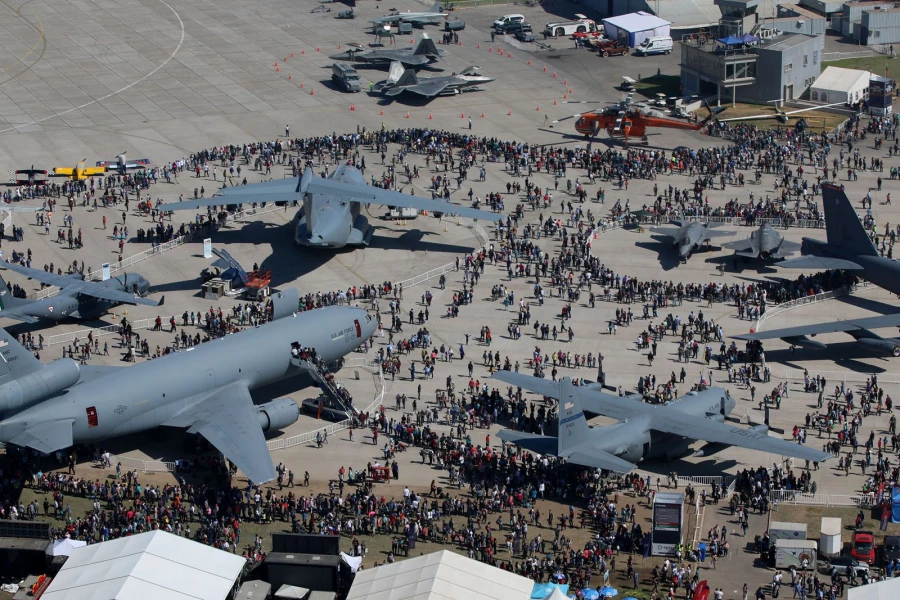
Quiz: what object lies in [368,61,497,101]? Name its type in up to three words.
airplane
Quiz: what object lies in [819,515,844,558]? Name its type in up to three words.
trailer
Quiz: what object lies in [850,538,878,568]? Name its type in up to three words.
truck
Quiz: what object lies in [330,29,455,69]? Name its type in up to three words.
airplane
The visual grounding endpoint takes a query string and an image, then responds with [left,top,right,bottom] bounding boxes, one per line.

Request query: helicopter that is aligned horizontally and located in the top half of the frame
[560,90,728,148]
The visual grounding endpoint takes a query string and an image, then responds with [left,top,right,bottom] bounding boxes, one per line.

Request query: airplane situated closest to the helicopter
[725,97,841,122]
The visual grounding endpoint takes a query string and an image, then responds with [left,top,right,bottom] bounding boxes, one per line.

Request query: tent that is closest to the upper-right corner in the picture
[807,62,874,105]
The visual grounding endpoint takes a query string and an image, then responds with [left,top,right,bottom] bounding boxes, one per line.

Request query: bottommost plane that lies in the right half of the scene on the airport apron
[494,366,832,471]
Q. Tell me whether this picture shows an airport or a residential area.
airport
